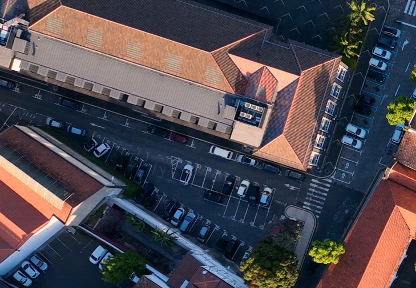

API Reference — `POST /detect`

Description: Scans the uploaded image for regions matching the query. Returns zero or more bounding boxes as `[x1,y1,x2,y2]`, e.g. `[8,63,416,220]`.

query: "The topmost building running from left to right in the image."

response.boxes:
[0,0,353,172]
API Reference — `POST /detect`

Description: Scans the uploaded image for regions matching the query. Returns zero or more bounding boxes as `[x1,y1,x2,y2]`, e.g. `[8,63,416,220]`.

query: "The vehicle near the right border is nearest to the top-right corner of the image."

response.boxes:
[380,25,402,39]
